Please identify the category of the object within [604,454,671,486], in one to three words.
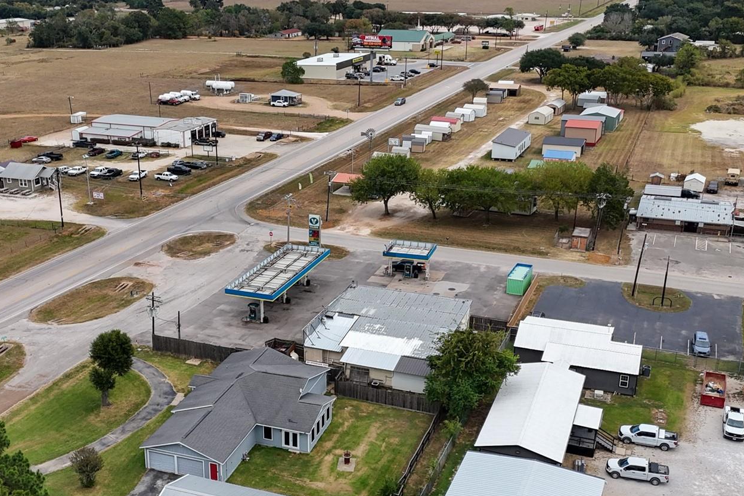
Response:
truck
